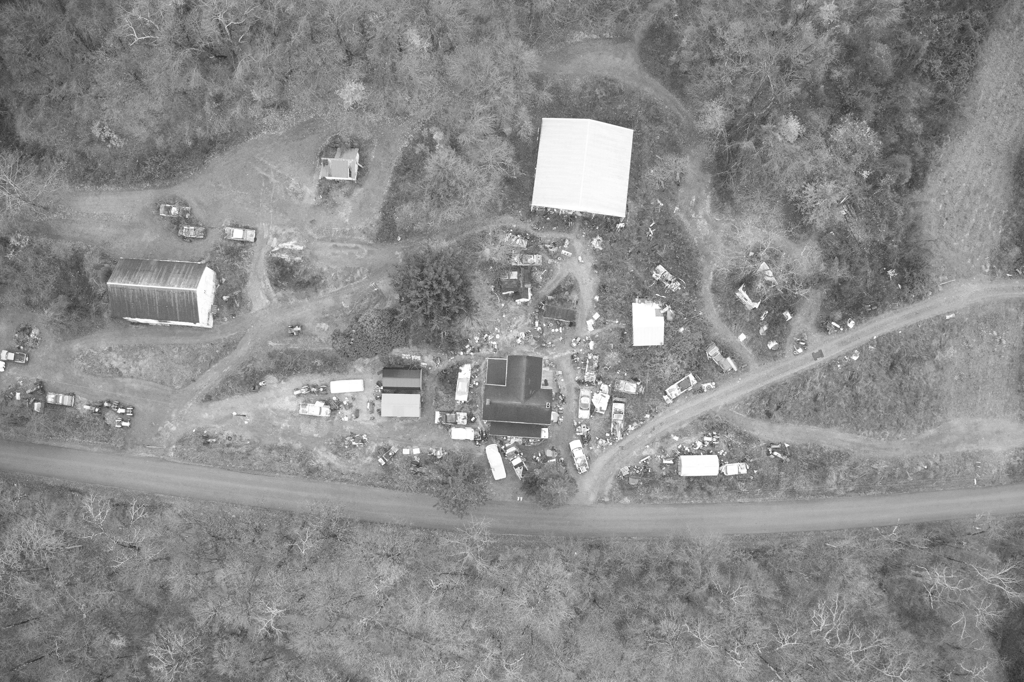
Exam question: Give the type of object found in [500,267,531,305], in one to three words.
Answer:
shed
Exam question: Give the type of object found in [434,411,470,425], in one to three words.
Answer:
vehicle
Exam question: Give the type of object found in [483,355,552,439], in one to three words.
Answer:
house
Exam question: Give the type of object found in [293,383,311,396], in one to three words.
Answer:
vehicle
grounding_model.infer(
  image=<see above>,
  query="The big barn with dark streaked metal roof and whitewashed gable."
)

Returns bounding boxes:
[107,259,228,326]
